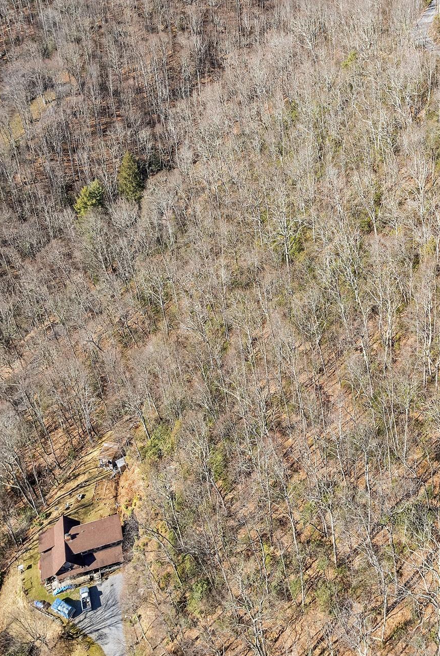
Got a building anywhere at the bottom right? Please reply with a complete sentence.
No, no building can be made out at the bottom right.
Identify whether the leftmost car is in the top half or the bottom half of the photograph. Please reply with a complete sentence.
The leftmost car is in the bottom half of the image.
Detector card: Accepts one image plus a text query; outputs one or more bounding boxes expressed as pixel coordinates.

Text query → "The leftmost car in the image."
[49,594,76,619]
